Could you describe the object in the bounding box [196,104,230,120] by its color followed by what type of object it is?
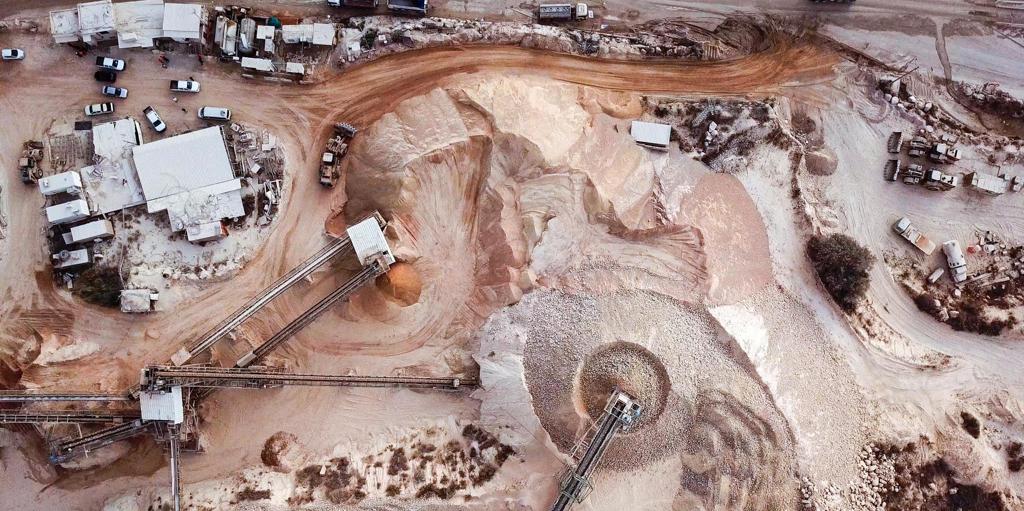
white vehicle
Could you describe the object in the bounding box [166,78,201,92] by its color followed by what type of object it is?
white vehicle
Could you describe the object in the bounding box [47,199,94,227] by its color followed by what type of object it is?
white shipping container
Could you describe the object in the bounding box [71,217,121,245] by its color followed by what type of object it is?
white shipping container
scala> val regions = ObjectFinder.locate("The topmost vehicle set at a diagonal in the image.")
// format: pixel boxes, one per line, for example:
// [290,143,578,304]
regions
[139,103,166,134]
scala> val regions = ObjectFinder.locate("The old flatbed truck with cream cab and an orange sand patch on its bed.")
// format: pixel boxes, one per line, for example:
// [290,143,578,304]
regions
[894,212,949,261]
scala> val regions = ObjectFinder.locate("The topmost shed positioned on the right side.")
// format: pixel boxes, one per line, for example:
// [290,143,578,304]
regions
[629,121,671,148]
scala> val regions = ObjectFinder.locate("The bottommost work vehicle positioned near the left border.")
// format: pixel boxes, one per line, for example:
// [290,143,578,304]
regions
[9,138,37,189]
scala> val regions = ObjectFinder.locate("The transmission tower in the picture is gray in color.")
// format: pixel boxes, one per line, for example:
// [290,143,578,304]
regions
[687,86,721,130]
